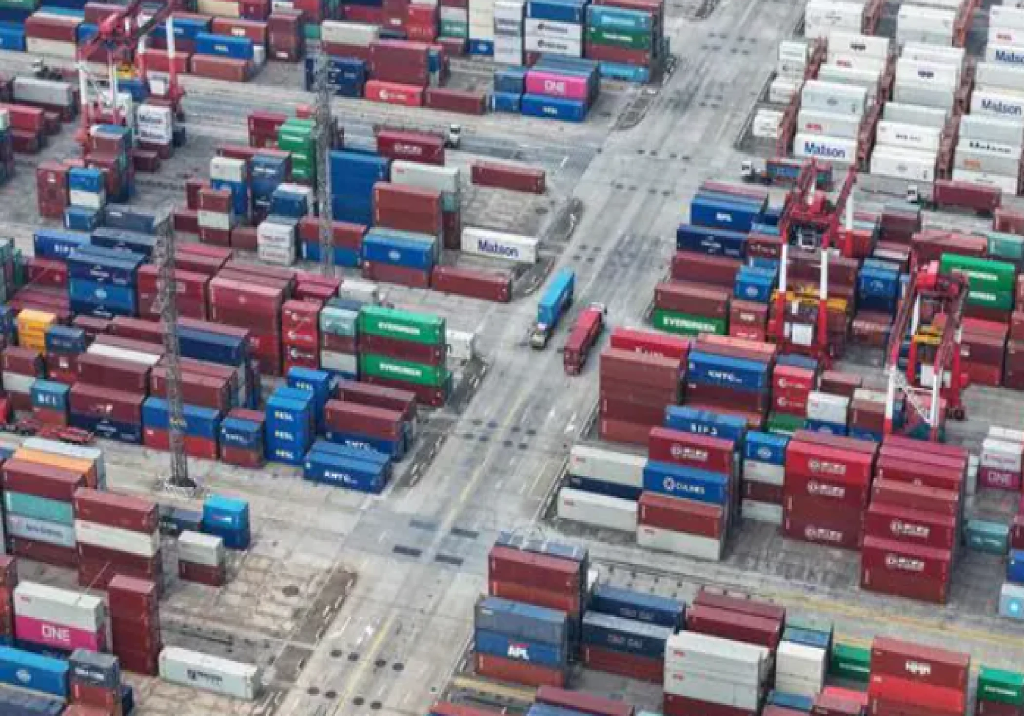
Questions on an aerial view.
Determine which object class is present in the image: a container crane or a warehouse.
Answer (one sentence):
The one in the frame is a container crane.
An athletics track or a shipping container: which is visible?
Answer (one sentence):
The one in the frame is a shipping container.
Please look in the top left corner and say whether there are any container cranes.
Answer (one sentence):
Yes, you'll find a container crane in the top left corner.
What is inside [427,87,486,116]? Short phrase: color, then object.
red shipping container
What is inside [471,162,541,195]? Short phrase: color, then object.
red shipping container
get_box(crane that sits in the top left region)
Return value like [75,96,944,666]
[64,0,184,149]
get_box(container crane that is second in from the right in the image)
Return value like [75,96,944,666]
[772,153,871,374]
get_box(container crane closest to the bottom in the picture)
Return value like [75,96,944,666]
[880,272,982,449]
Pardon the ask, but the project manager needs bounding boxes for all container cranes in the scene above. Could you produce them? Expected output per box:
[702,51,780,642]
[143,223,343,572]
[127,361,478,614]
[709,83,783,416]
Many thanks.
[880,272,982,449]
[772,153,871,374]
[64,0,184,149]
